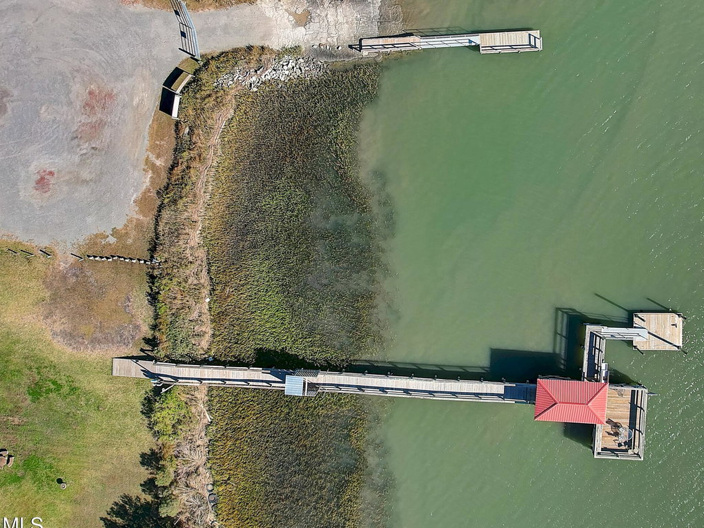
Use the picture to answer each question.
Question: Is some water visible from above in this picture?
Yes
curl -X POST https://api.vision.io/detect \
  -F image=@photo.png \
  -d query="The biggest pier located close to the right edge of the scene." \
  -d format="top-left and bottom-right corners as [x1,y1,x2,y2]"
[632,312,682,351]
